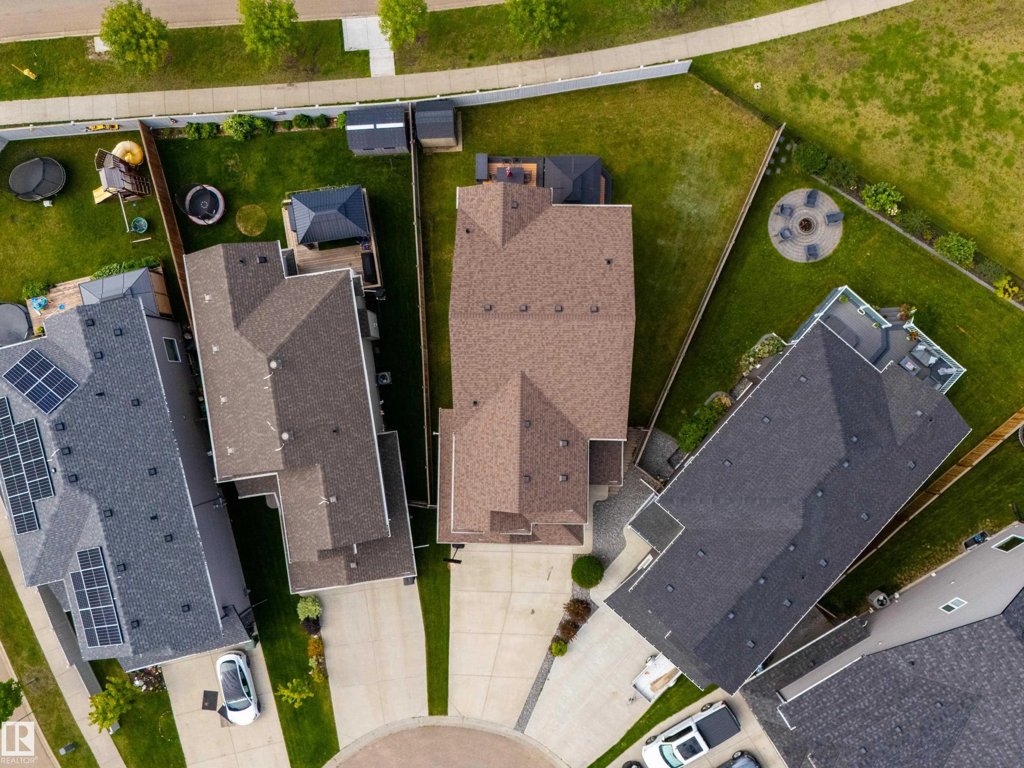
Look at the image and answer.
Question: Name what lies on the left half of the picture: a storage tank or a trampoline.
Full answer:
The feature located on the left half of the picture is a trampoline.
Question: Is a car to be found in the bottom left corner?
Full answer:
Yes, I can see a car in the bottom left corner.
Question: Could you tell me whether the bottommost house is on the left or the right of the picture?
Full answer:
It is on the right.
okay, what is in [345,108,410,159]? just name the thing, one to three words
shed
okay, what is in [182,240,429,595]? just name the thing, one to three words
house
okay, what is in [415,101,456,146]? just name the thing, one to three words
shed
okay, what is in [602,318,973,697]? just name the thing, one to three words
house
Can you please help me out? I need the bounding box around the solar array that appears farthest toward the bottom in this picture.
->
[67,548,121,649]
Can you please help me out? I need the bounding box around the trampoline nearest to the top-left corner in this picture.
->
[17,157,74,206]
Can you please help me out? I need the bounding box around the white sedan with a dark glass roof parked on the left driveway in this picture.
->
[210,654,260,733]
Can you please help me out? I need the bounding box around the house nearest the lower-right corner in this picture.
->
[747,533,1024,768]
